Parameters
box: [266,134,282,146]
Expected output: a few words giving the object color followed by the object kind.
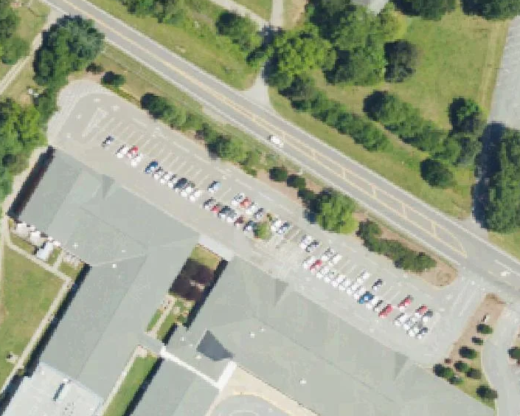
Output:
white vehicle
